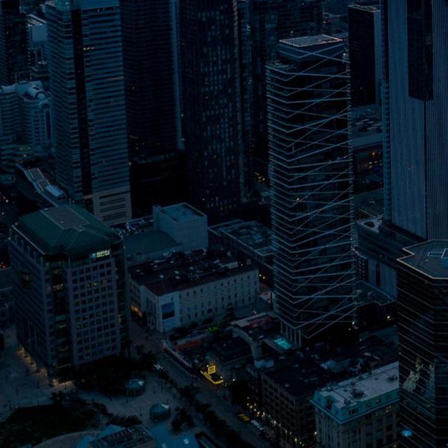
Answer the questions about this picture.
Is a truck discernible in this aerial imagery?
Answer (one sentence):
No, no truck is visible in the scene.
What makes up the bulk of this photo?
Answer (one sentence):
The largest share of the image is taken up by buildings.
